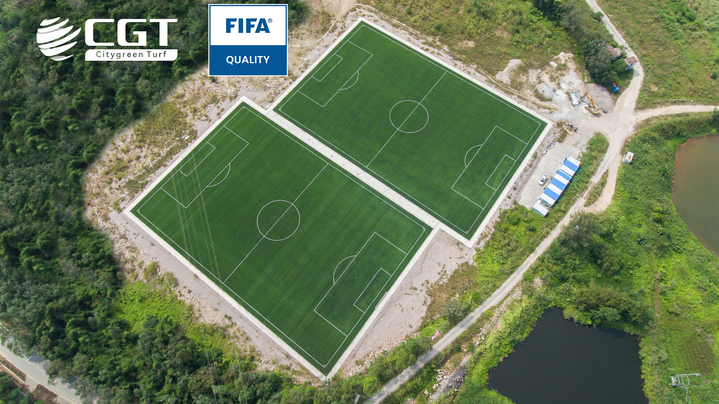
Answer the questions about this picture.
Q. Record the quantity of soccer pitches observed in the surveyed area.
2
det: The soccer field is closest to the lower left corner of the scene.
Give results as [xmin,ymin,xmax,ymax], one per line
[124,96,440,384]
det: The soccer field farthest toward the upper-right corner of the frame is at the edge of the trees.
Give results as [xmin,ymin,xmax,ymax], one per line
[267,17,553,247]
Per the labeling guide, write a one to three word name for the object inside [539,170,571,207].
building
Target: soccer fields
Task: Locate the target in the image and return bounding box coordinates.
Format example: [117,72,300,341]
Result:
[124,96,440,384]
[267,17,553,247]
